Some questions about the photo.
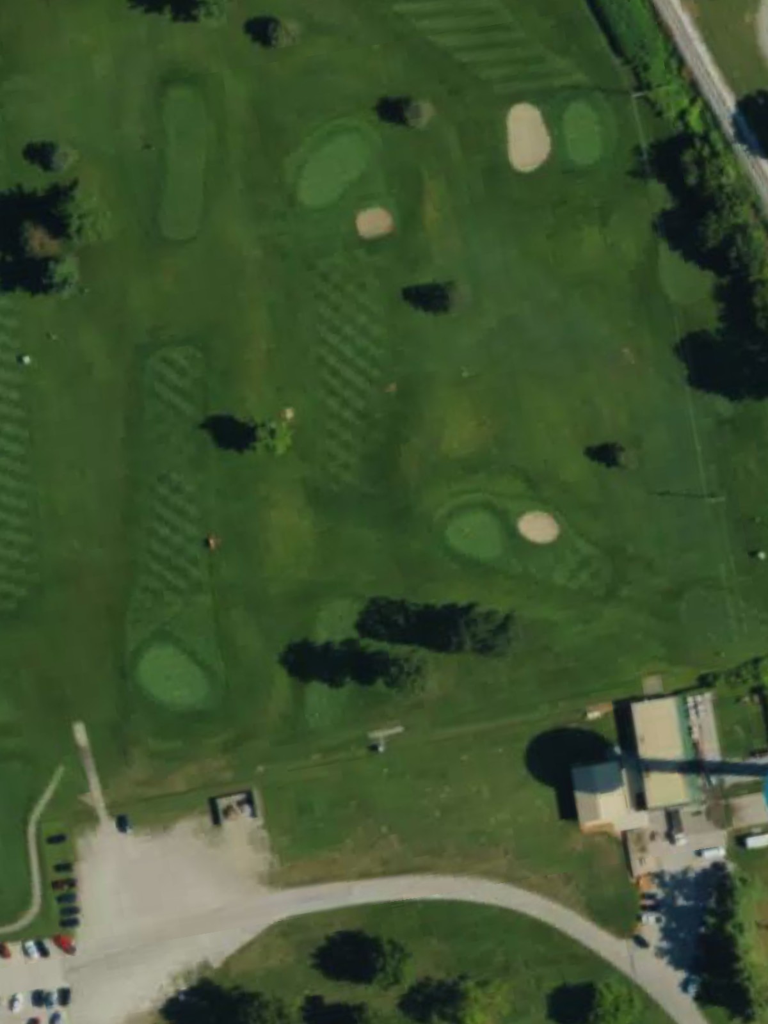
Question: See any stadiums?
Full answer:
No, the photo shows no stadium.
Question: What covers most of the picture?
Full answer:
The largest share of the image is taken up by grass.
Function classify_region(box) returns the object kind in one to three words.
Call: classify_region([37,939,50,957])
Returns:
vehicle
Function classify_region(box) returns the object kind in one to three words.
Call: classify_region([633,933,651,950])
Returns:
car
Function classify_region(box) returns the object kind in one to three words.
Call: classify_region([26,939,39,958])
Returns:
vehicle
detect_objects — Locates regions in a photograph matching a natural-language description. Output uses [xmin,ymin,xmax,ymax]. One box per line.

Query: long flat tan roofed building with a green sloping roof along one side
[626,694,703,809]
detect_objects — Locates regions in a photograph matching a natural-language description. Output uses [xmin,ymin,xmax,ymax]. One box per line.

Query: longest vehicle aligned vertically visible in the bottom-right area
[672,812,687,844]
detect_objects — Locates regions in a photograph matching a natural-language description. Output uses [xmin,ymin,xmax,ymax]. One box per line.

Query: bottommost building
[568,760,634,833]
